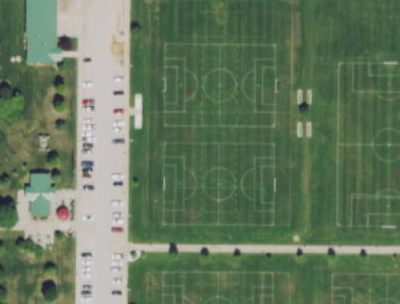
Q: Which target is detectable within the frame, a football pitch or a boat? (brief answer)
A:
football pitch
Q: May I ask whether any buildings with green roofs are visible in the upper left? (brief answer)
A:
Yes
